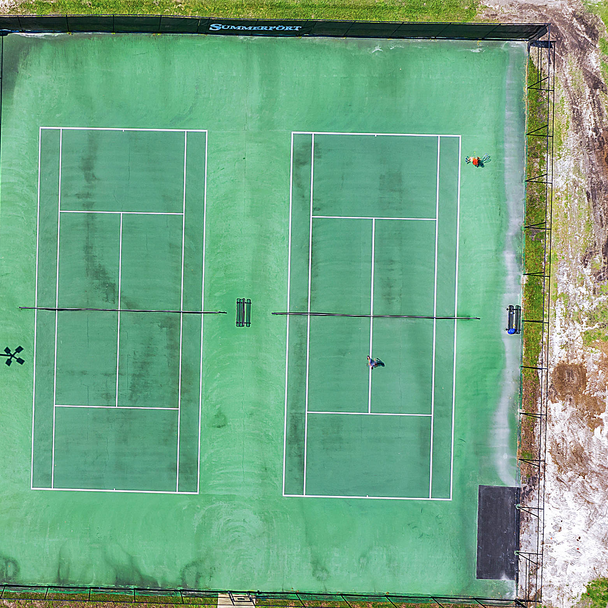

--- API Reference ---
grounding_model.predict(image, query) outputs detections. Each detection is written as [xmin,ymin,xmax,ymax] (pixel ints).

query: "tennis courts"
[283,131,461,501]
[31,127,208,494]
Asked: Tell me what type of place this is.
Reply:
sports ground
